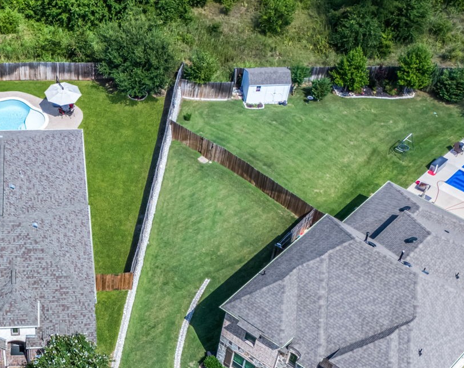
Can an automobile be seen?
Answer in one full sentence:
No, there is no automobile in the image.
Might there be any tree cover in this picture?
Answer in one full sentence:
Yes, some tree cover is visible.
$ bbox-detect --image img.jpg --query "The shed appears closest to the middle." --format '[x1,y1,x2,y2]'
[242,65,292,104]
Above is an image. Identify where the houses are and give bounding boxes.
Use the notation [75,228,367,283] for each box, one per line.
[0,129,100,368]
[218,181,464,368]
